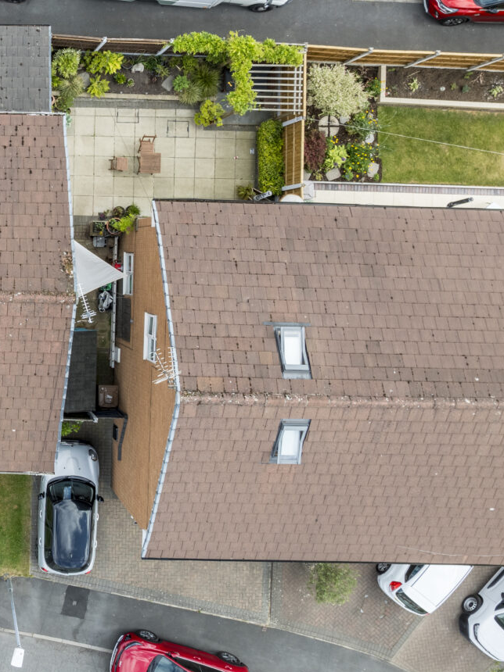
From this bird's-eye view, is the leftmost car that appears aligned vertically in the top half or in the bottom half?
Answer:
bottom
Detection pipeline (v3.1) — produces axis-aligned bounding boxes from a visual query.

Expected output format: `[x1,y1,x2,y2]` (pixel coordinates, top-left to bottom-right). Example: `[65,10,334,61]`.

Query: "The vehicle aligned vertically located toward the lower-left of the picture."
[32,437,106,578]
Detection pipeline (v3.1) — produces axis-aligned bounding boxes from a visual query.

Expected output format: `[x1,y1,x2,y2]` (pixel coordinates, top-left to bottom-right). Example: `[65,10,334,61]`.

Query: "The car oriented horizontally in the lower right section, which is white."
[375,568,479,613]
